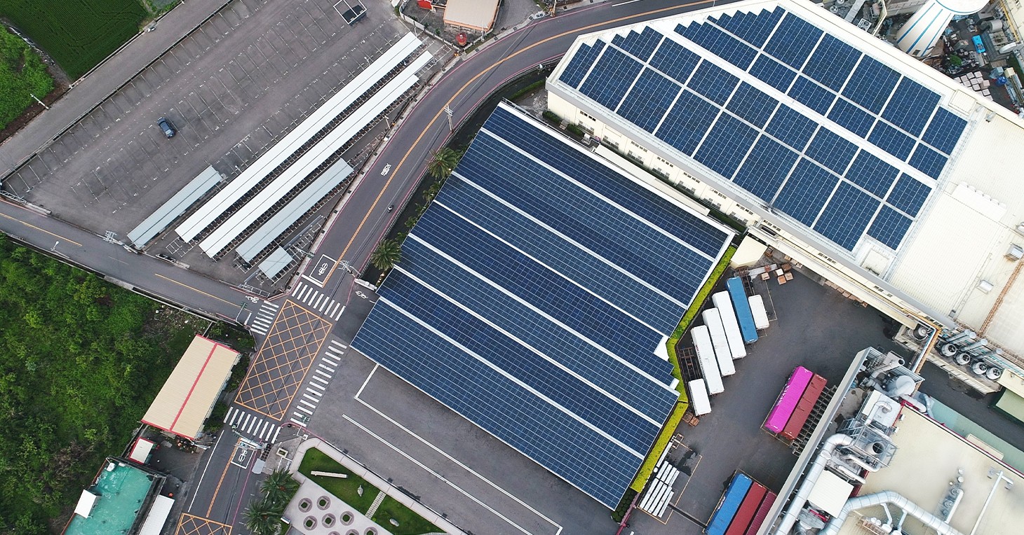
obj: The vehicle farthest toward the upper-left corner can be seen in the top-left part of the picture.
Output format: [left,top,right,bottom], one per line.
[156,116,174,137]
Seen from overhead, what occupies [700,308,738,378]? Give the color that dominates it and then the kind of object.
white trailer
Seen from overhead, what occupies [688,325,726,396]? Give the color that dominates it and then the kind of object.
white trailer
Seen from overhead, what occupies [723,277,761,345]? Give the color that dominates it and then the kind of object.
blue trailer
